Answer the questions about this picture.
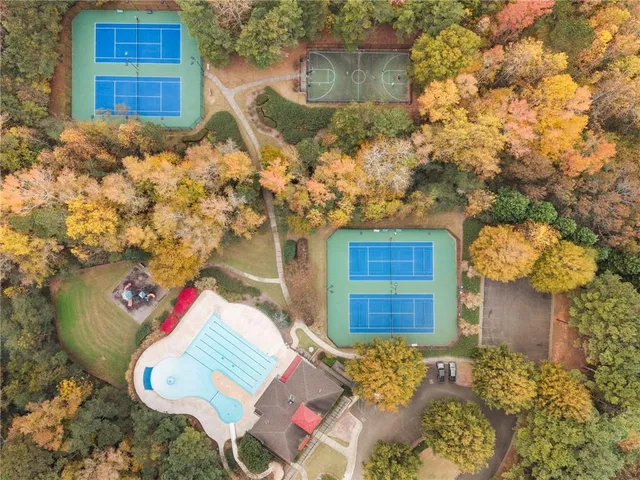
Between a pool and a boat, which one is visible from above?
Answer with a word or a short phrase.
pool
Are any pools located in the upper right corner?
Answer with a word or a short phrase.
No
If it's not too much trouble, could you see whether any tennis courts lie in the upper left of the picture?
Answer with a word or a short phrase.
Yes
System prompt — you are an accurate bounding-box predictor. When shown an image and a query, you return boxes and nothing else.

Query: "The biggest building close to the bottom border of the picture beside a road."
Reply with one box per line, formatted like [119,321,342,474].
[249,354,344,462]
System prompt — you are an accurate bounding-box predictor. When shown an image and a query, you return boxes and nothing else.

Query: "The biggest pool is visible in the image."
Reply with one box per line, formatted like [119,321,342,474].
[142,309,282,422]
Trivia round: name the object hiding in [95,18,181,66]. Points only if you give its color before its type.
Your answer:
blue tennis court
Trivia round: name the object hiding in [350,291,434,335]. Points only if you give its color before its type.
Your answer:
blue tennis court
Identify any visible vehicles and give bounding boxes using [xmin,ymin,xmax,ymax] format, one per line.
[448,361,457,382]
[436,361,445,382]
